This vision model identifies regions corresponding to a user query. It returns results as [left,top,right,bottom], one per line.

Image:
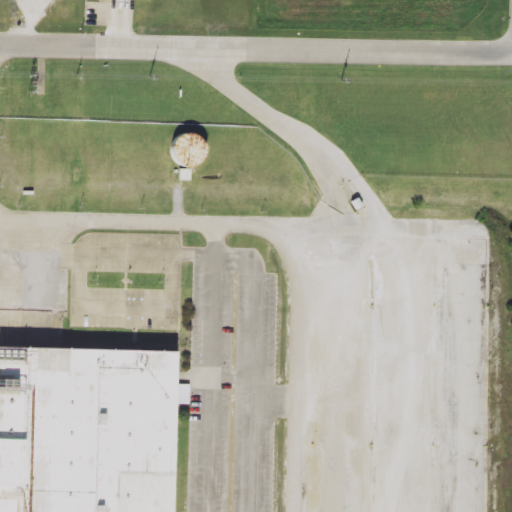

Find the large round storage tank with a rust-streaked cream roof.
[170,133,208,168]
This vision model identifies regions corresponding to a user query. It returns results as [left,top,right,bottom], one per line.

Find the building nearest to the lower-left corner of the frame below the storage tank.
[0,346,190,512]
